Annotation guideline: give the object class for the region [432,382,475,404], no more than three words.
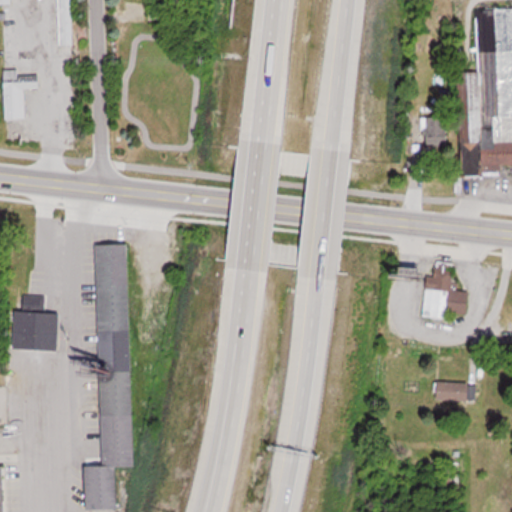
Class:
house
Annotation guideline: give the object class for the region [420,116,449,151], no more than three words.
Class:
house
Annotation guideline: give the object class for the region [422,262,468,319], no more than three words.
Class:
building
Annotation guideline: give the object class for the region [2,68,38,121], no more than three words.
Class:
building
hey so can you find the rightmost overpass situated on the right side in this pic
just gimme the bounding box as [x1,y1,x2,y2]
[298,147,351,278]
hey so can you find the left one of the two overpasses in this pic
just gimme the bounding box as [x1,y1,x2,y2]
[224,140,282,272]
